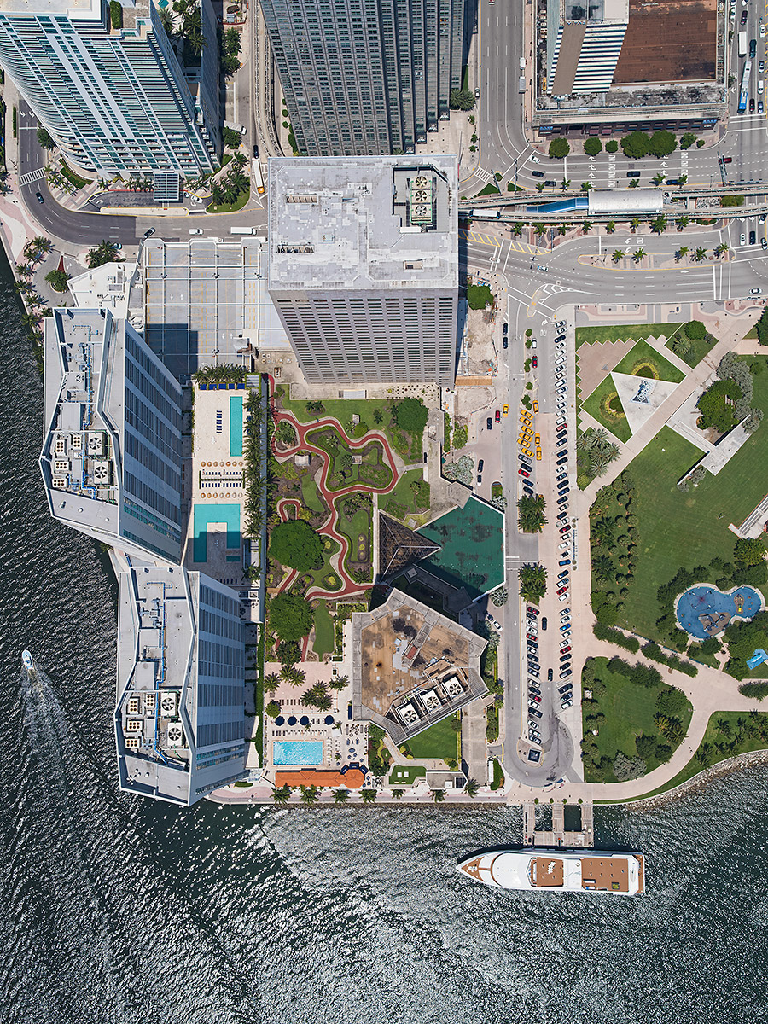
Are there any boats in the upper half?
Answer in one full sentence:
No, I can find no boat in the upper half.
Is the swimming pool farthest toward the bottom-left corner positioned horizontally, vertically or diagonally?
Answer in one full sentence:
What the image shows is the swimming pool farthest toward the bottom-left corner lying horizontally.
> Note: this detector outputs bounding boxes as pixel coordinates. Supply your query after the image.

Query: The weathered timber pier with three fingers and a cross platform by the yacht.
[523,805,595,848]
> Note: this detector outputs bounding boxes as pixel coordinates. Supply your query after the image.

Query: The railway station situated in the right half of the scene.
[512,190,683,217]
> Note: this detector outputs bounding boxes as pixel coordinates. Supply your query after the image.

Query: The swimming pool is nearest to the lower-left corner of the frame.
[274,741,322,765]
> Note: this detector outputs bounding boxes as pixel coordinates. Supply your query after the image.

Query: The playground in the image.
[677,586,761,638]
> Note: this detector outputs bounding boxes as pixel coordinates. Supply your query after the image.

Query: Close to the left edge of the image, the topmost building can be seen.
[0,0,223,207]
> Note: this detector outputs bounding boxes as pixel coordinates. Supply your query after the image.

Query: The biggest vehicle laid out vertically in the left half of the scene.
[252,158,265,194]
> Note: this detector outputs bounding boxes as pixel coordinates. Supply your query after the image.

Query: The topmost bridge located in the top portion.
[253,0,284,159]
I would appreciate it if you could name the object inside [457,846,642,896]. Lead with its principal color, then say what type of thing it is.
white boat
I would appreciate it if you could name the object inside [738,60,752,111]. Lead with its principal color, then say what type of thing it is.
white vehicle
